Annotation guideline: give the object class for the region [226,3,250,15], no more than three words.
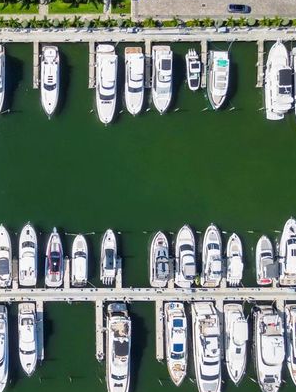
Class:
vehicle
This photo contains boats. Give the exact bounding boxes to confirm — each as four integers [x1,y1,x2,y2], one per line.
[160,303,189,388]
[221,303,251,387]
[124,42,147,117]
[275,217,296,285]
[280,304,296,386]
[16,221,40,290]
[148,230,174,289]
[93,40,120,126]
[0,42,8,111]
[104,303,132,392]
[260,39,295,121]
[205,42,233,112]
[183,43,205,90]
[246,303,292,392]
[287,41,296,125]
[200,223,223,289]
[150,40,176,115]
[224,232,248,290]
[254,234,277,288]
[41,228,66,289]
[0,223,13,288]
[190,303,223,392]
[38,41,62,121]
[12,304,39,380]
[96,228,120,289]
[0,304,10,392]
[69,233,93,288]
[171,224,197,289]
